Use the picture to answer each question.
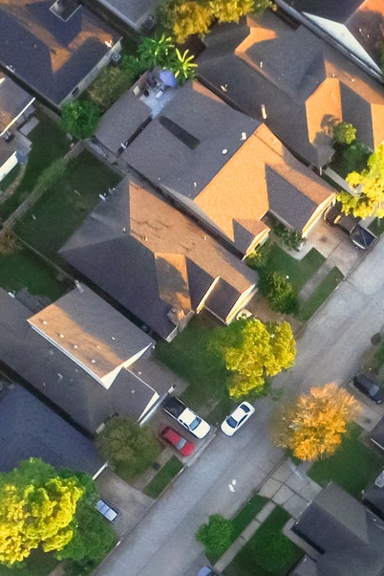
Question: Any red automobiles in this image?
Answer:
Yes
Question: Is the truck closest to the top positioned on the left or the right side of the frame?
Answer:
right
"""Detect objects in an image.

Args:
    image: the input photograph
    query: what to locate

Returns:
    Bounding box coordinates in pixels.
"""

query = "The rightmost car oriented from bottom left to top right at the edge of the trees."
[219,398,258,439]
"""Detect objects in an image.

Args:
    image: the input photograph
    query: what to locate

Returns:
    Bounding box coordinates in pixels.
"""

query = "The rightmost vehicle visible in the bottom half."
[347,368,384,408]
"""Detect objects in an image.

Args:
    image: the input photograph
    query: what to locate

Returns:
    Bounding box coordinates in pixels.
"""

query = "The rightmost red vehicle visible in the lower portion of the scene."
[155,422,198,459]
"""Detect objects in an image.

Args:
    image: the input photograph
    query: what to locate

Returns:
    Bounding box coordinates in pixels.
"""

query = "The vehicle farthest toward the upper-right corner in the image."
[323,203,374,251]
